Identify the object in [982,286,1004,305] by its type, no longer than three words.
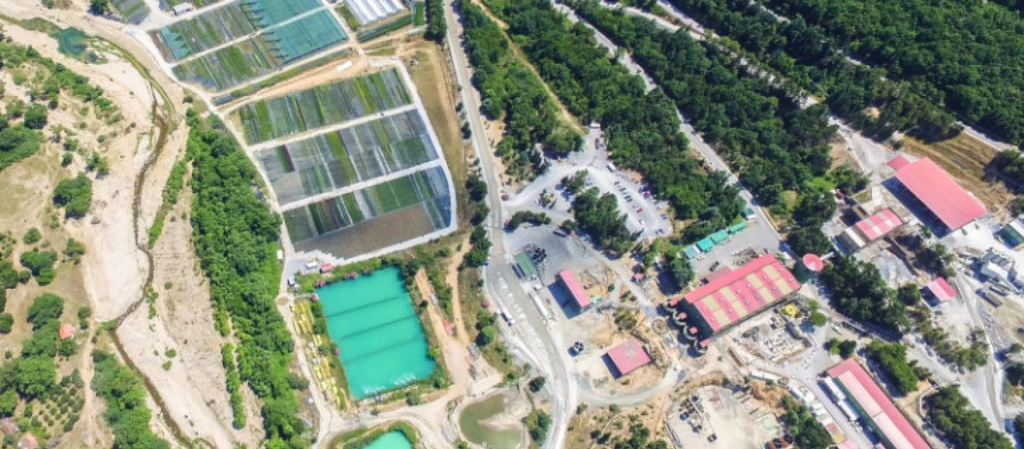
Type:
vehicle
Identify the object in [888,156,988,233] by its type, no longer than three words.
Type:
building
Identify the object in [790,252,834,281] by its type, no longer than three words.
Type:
storage tank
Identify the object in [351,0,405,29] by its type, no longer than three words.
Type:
greenhouse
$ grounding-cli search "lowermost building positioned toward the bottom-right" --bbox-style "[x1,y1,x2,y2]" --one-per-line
[828,357,940,449]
